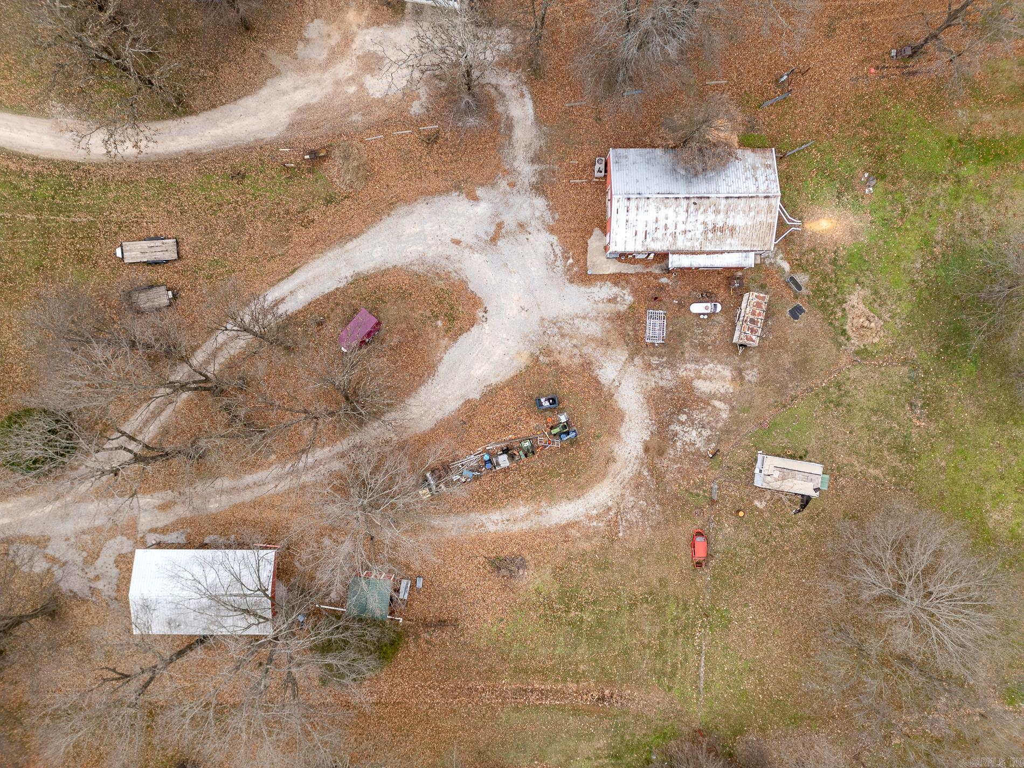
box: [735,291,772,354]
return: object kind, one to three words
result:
trailer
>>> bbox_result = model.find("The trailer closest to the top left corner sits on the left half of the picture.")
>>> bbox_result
[109,237,174,264]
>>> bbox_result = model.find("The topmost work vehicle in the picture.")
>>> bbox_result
[303,147,324,160]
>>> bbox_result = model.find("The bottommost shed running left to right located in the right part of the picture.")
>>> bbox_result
[756,451,836,498]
